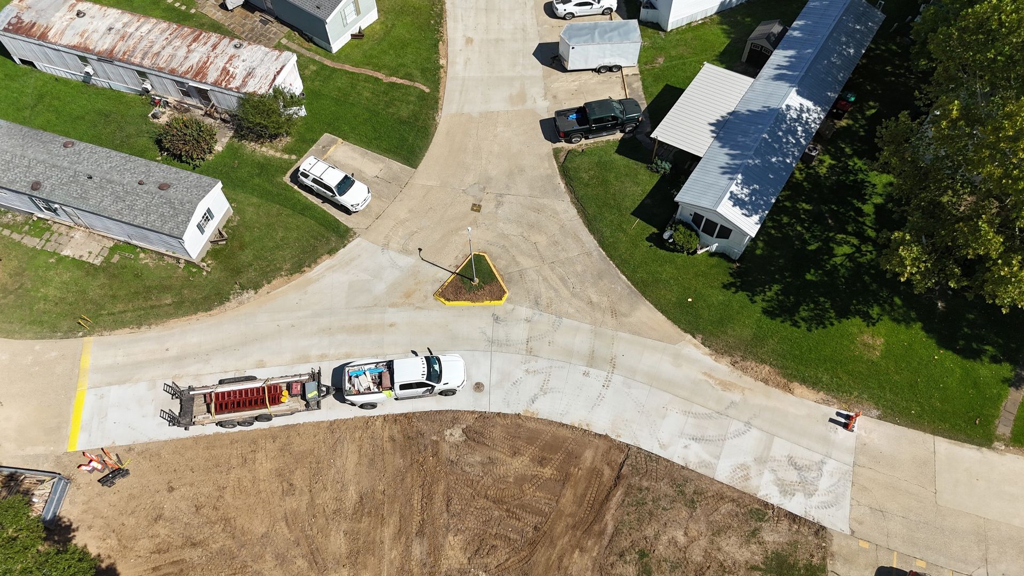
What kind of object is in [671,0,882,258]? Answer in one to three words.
house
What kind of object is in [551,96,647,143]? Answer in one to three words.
truck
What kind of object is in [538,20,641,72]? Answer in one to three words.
trailer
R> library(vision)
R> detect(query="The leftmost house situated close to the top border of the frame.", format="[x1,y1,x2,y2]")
[0,0,310,123]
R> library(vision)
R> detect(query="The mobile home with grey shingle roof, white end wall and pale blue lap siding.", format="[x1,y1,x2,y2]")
[0,121,232,262]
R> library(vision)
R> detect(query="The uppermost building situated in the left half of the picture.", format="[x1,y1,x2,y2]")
[247,0,380,54]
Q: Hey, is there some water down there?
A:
No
